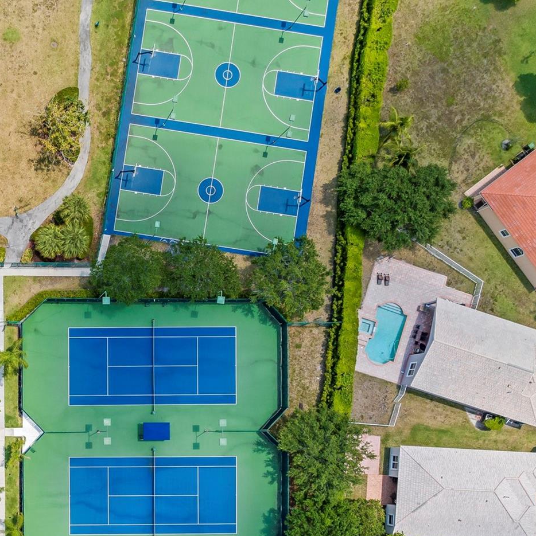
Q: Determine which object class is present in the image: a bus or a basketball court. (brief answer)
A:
basketball court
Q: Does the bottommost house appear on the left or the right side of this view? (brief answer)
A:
right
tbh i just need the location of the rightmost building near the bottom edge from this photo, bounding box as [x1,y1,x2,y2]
[387,445,536,536]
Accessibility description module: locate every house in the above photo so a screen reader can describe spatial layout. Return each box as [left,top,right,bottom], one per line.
[387,445,536,536]
[474,149,536,283]
[404,297,536,427]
